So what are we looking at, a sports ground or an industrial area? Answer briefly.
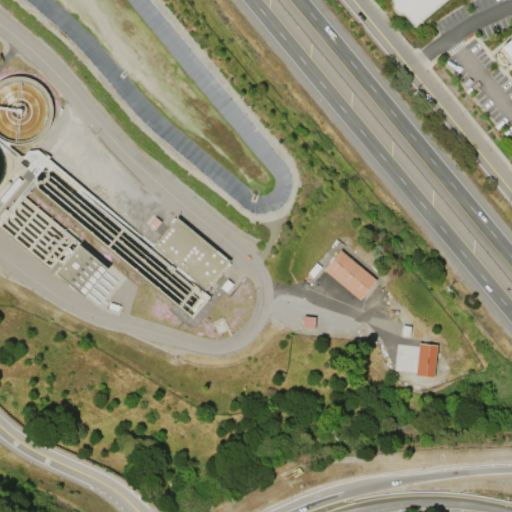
industrial area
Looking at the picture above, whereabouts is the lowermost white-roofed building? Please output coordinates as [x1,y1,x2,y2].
[396,344,420,374]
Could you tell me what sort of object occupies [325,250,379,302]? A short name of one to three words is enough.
barn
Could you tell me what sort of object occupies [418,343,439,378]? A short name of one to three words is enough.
house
